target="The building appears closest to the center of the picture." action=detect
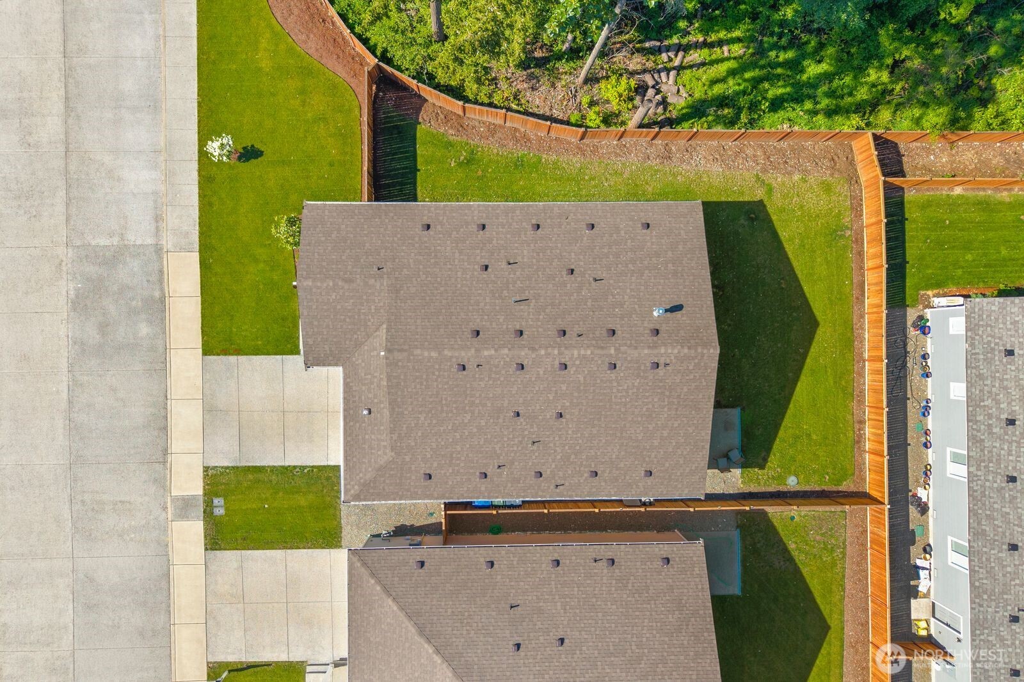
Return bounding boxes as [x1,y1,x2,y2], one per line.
[291,198,721,503]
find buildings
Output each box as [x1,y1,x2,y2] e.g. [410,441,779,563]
[311,530,718,682]
[291,198,721,503]
[929,295,1024,682]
